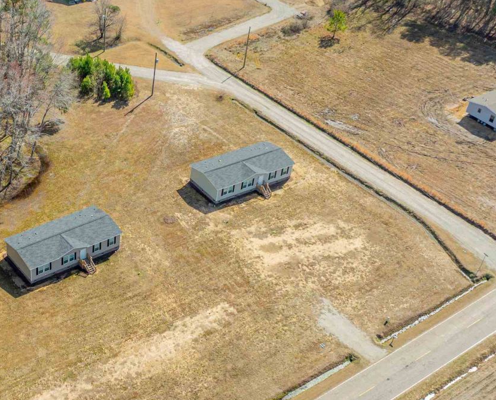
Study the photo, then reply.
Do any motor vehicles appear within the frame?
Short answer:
No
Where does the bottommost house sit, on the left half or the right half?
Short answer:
left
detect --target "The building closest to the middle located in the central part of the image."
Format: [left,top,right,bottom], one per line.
[190,142,295,202]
